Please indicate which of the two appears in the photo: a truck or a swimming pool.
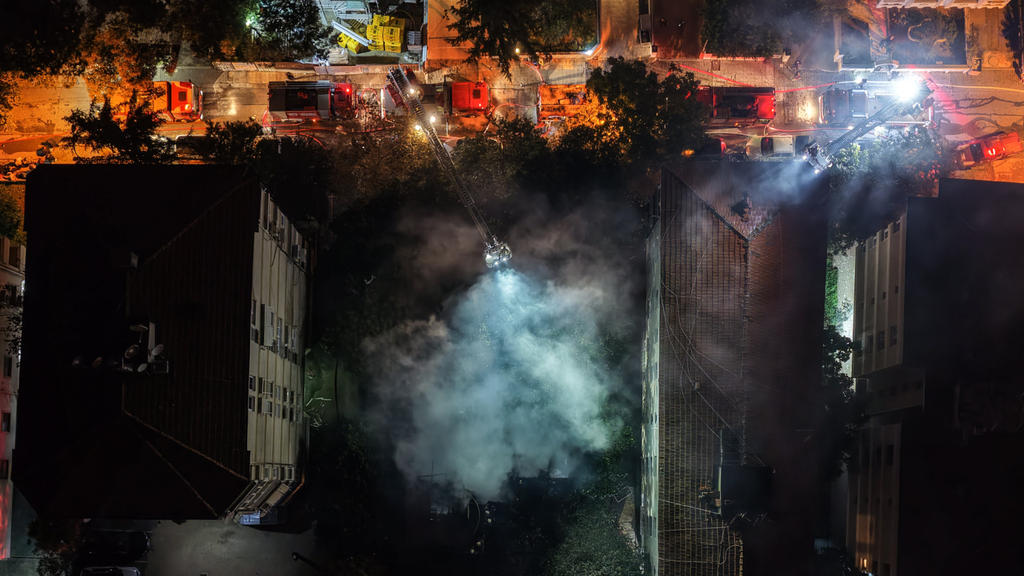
truck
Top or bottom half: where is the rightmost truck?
top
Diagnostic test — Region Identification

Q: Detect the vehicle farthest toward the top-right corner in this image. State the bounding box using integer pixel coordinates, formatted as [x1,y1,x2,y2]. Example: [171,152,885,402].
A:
[952,132,1022,170]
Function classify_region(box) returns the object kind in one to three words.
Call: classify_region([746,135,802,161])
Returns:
car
